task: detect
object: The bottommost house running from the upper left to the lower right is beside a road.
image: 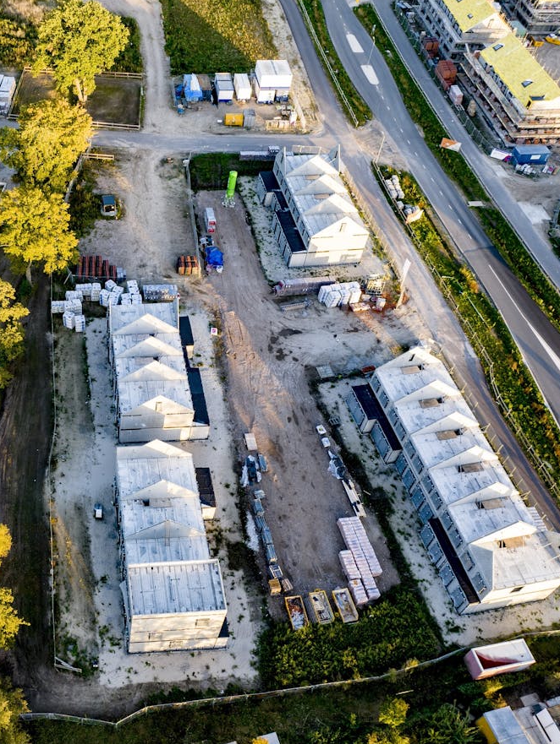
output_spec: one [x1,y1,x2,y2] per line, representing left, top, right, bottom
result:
[342,346,560,614]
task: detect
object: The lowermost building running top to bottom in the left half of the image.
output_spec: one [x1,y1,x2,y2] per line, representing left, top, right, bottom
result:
[109,435,231,652]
